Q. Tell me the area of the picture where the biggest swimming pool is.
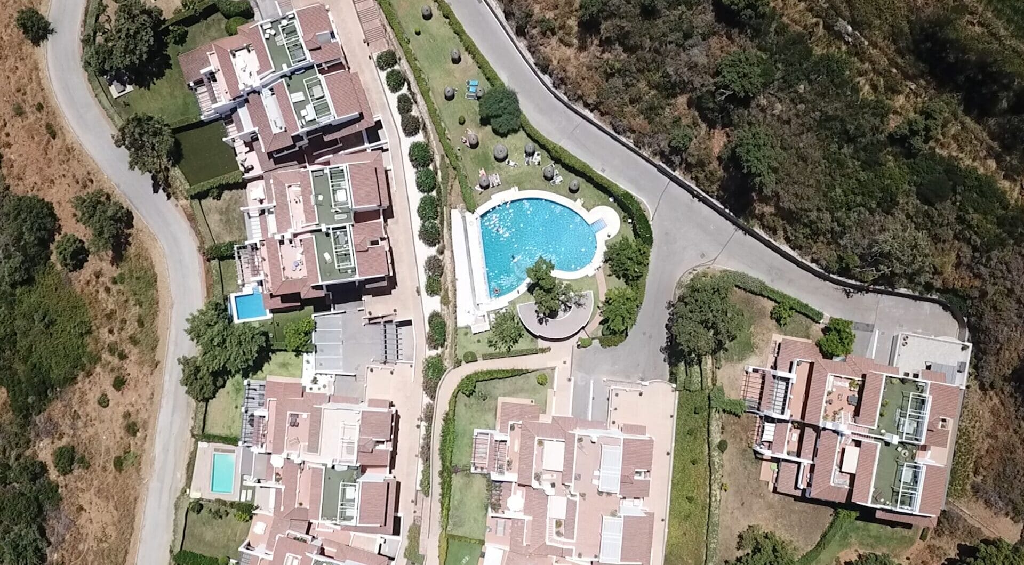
center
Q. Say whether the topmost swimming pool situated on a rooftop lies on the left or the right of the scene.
left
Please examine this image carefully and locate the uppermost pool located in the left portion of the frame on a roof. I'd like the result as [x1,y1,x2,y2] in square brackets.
[235,286,266,319]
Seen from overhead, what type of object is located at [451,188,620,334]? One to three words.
swimming pool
